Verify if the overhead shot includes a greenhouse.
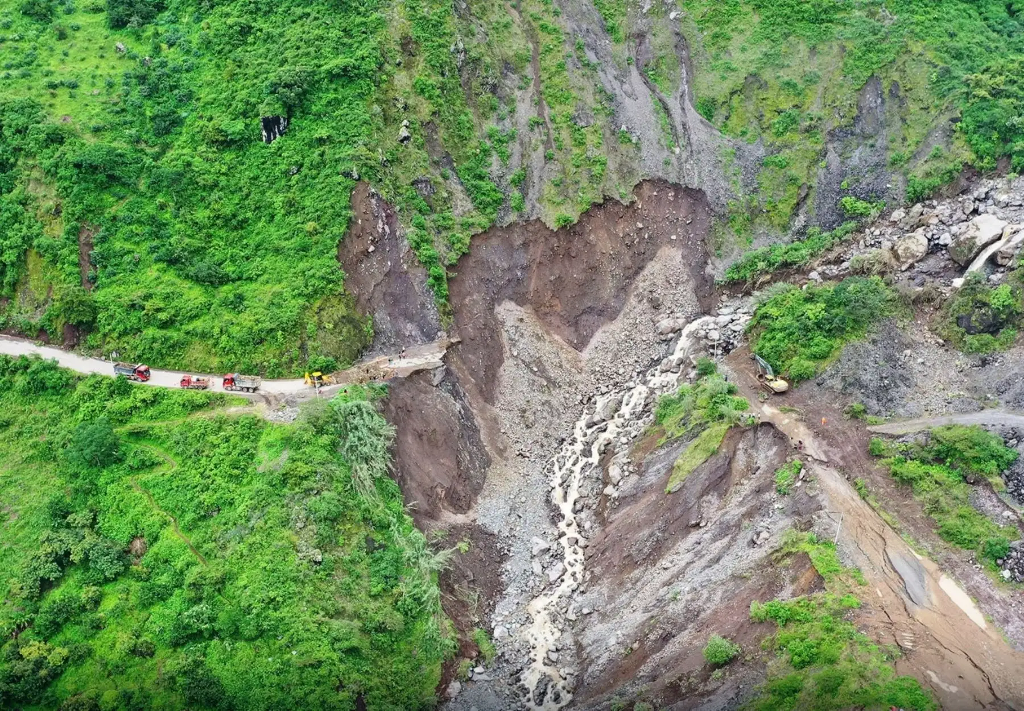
No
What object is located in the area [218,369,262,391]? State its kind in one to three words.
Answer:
truck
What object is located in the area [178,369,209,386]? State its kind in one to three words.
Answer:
vehicle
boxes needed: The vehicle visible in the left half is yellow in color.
[302,370,338,389]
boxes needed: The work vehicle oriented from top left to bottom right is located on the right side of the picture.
[754,350,790,394]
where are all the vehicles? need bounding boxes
[178,369,209,386]
[302,370,338,389]
[109,360,152,381]
[218,369,262,391]
[754,350,790,394]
